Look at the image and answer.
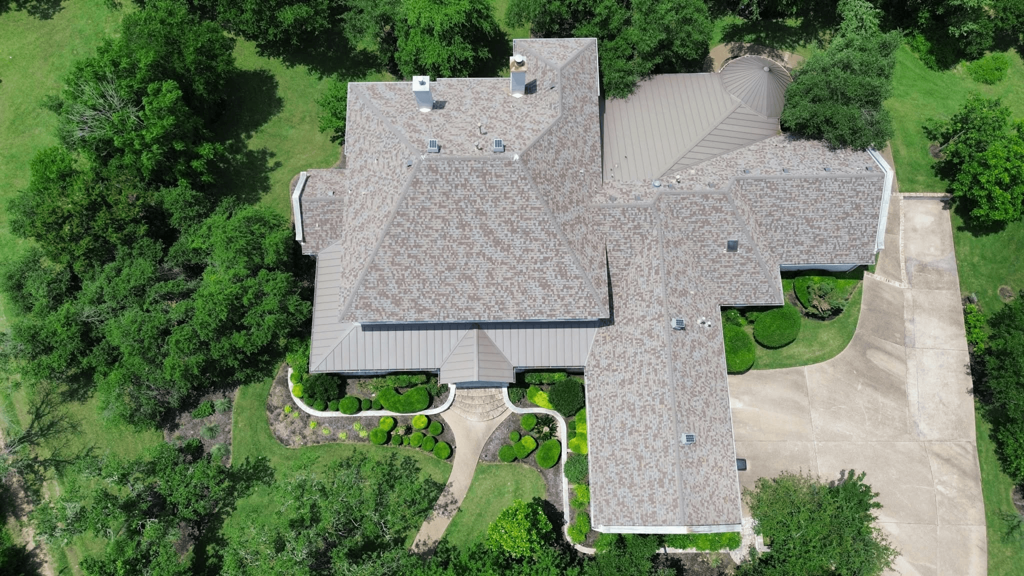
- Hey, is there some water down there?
No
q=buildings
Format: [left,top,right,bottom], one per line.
[292,37,892,534]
